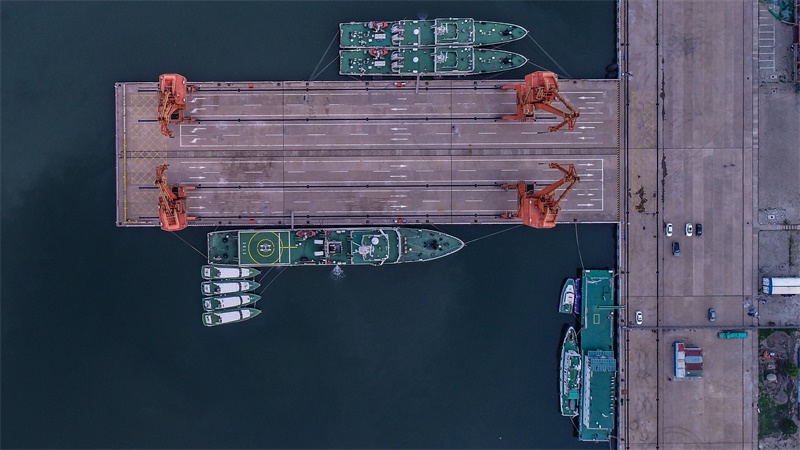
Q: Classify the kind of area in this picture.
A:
port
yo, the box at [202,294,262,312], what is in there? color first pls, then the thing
white boat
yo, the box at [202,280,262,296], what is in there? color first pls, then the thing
white boat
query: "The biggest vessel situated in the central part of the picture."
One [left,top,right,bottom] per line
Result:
[208,228,465,267]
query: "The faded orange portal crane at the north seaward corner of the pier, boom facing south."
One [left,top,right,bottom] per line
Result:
[155,73,198,139]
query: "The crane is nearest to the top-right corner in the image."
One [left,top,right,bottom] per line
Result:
[498,72,588,137]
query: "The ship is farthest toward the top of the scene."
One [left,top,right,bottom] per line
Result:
[340,18,529,48]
